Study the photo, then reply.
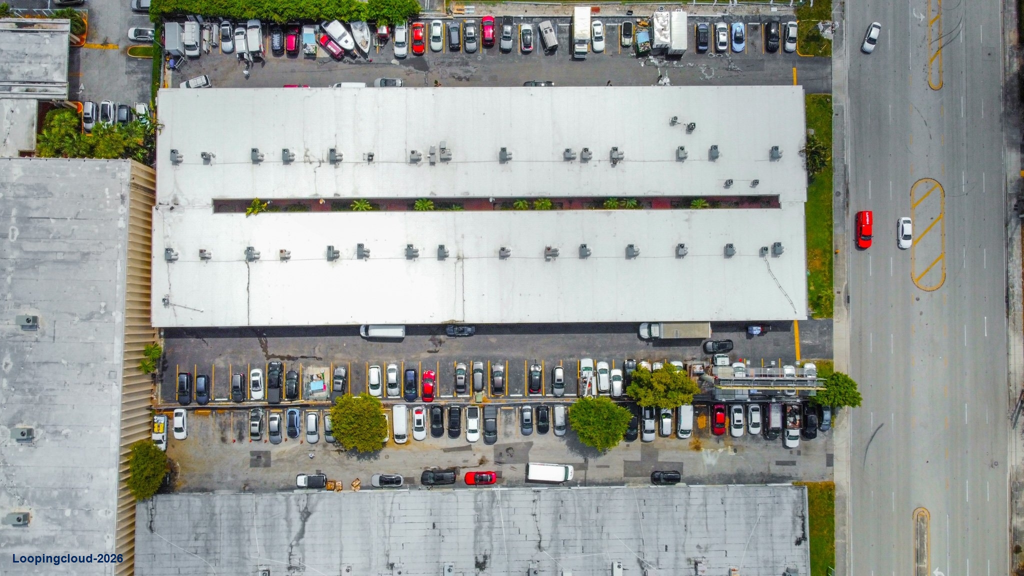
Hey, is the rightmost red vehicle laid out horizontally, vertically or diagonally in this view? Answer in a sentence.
From this overhead view, the rightmost red vehicle appears to run vertically.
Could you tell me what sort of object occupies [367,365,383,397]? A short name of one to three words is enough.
car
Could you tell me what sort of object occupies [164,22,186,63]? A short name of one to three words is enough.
trailer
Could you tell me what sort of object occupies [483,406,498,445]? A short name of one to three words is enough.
vehicle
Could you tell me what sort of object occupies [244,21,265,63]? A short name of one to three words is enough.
truck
